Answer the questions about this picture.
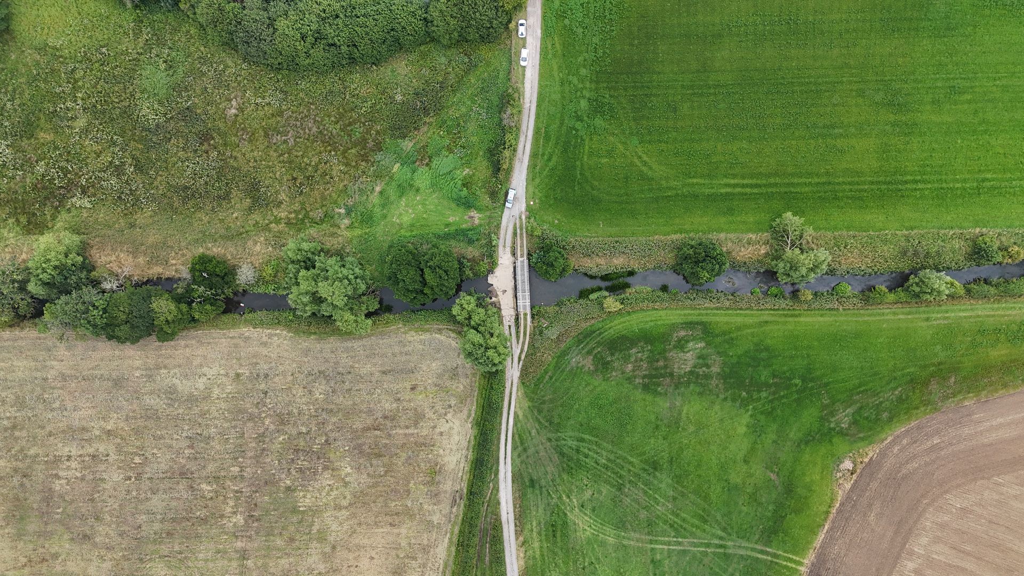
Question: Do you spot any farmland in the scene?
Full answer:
Yes, farmland shows up in the scene.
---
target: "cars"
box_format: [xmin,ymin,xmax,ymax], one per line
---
[505,187,517,209]
[520,48,529,67]
[518,19,526,38]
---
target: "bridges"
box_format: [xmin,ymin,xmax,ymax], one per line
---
[516,257,531,313]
